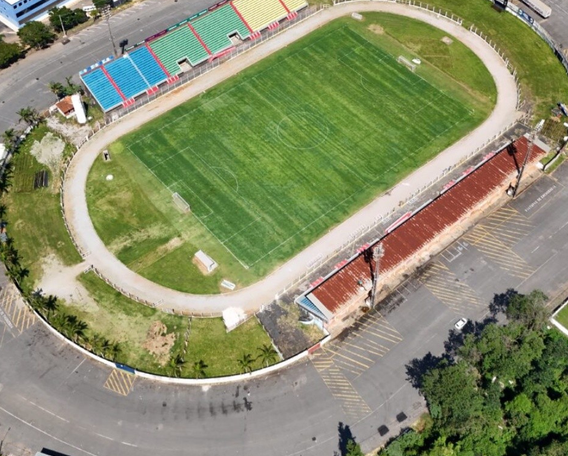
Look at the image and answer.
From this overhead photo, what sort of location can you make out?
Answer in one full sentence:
The area seen from above is a sports ground.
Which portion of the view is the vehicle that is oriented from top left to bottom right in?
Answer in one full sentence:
The vehicle that is oriented from top left to bottom right sits in the top right section of the image.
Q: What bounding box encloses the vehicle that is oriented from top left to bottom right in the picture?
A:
[520,0,550,20]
